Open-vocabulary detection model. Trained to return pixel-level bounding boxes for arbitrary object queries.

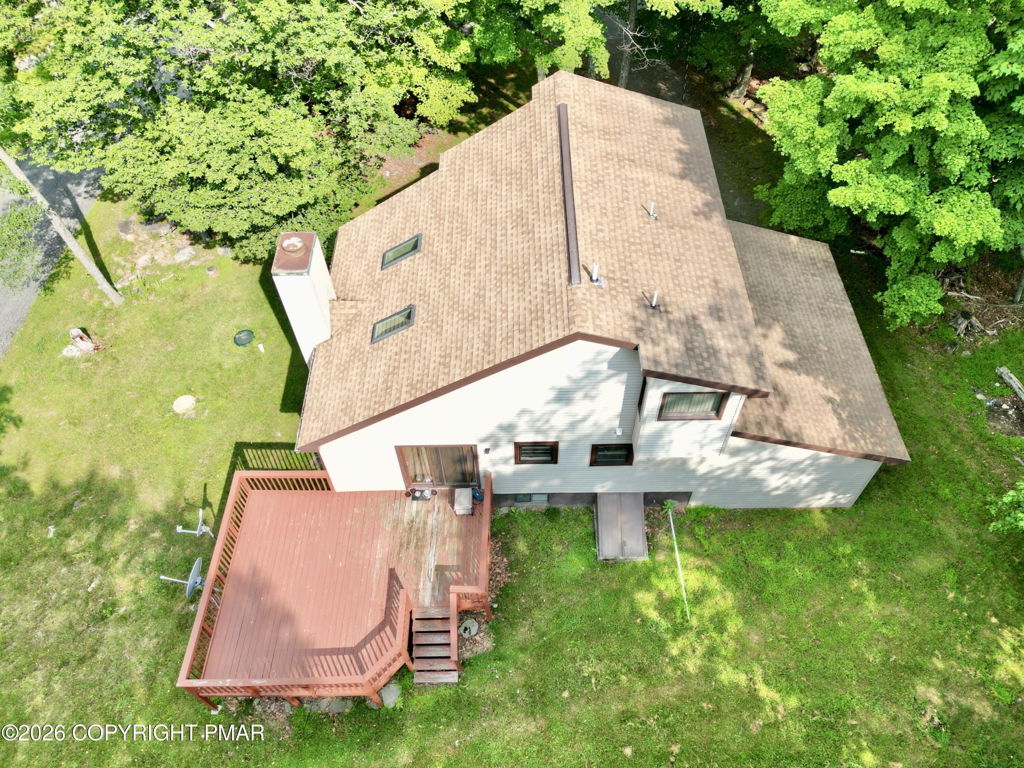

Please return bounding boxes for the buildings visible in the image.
[267,67,912,508]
